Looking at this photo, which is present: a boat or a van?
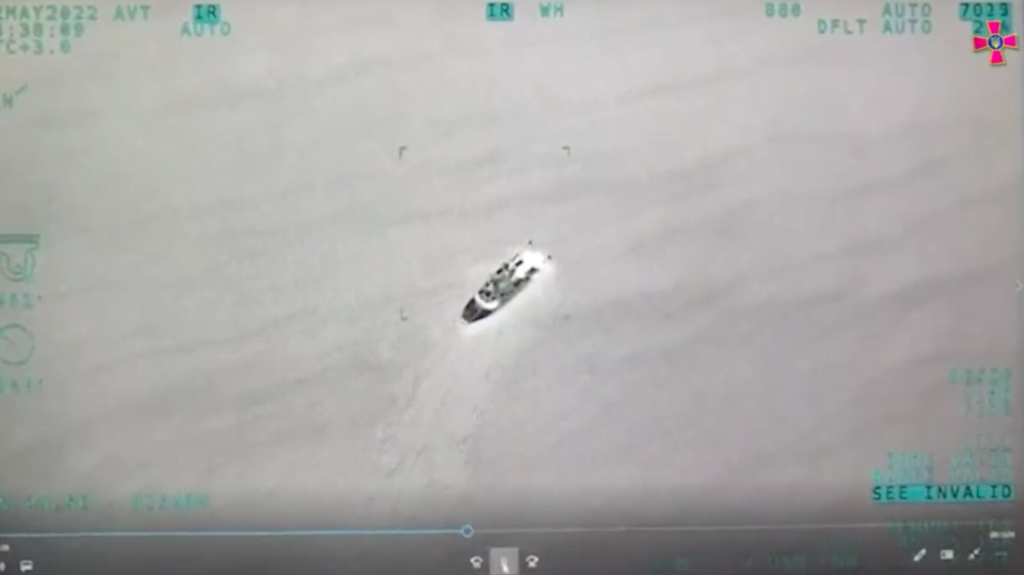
boat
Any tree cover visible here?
No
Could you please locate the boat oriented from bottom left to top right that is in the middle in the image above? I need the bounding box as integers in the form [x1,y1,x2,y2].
[461,243,550,323]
